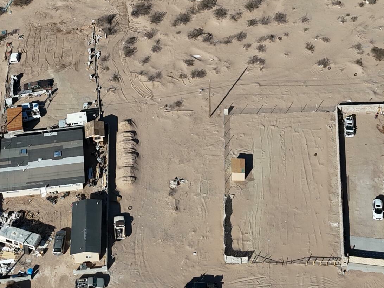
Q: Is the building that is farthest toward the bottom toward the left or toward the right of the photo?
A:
left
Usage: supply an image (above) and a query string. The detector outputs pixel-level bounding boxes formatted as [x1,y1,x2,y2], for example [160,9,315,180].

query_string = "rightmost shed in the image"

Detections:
[231,157,245,182]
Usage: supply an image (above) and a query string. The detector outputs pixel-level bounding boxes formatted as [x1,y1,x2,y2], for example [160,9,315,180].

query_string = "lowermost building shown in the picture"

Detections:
[70,196,102,263]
